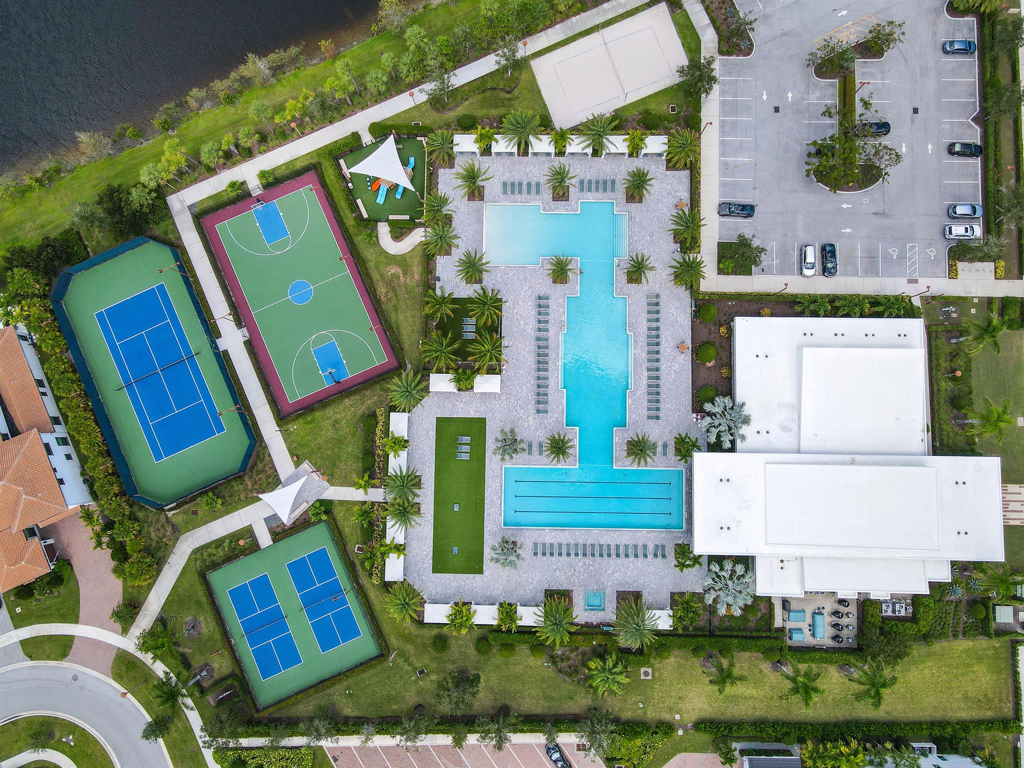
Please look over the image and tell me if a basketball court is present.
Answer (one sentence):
Yes, there's a basketball court here.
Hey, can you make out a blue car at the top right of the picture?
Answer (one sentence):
Yes, looking at the top right of the picture, one can make out a blue car.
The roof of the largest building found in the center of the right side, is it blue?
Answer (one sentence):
No, the roof of the largest building found in the center of the right side is white.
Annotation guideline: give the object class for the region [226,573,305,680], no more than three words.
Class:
sports court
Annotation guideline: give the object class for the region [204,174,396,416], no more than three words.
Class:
basketball court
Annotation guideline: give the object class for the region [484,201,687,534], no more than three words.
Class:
swimming pool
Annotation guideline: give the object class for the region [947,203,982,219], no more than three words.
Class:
car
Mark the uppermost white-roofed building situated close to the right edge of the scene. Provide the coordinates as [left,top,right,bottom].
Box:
[692,317,1005,599]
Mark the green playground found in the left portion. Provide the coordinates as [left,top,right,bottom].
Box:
[338,137,425,220]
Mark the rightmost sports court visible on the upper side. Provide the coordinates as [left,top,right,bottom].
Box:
[530,1,690,130]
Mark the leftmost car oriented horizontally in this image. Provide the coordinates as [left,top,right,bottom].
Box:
[718,201,754,218]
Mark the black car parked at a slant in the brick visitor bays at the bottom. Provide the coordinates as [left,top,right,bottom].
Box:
[546,742,569,768]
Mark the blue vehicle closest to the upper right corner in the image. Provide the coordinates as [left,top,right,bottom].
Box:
[942,39,975,56]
